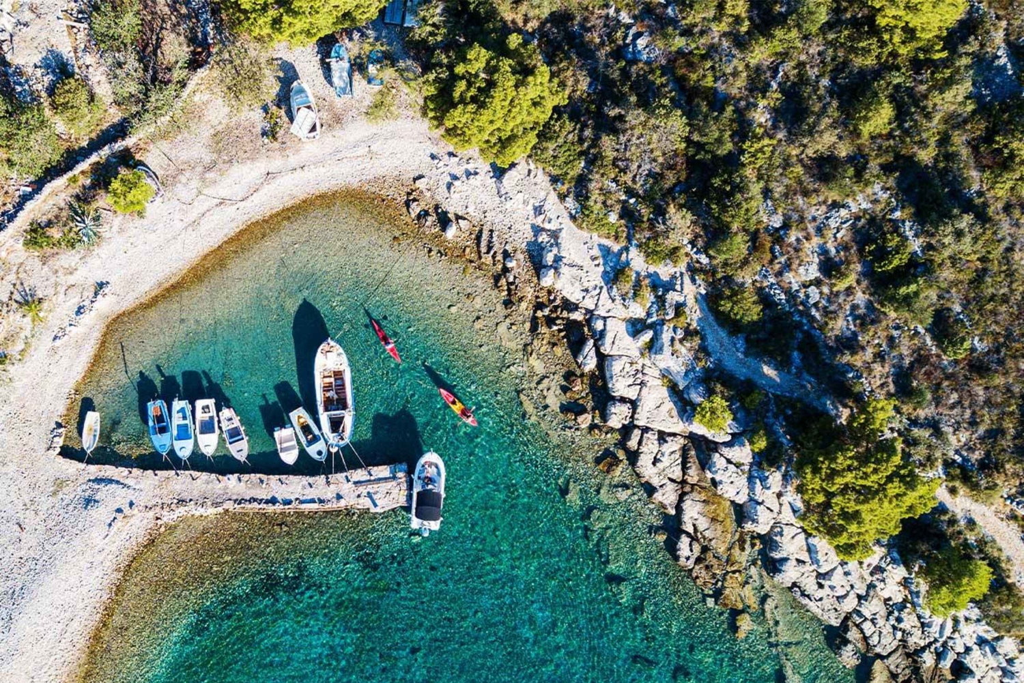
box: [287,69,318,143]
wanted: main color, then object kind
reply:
white boat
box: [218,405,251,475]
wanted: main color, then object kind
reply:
white boat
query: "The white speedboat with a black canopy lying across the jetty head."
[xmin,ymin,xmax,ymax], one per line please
[408,451,446,539]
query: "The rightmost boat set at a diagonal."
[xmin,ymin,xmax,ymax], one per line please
[439,388,477,427]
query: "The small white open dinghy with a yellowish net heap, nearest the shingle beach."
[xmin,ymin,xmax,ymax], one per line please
[83,411,104,463]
